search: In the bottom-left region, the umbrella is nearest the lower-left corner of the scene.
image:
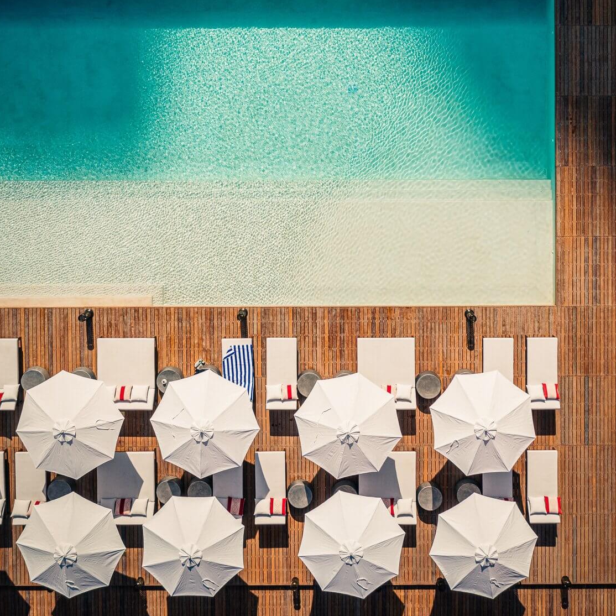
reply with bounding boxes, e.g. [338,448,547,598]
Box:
[16,491,127,600]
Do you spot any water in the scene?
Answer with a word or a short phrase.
Yes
